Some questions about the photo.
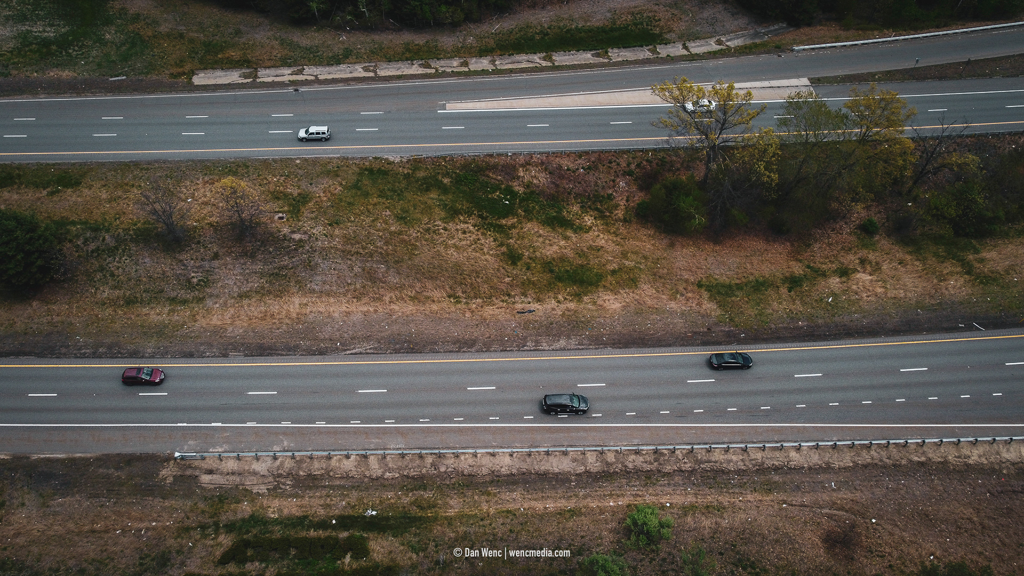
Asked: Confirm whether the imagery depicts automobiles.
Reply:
Yes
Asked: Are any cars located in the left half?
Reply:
Yes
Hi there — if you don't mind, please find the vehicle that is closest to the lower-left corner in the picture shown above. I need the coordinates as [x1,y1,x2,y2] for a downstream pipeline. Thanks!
[117,364,165,386]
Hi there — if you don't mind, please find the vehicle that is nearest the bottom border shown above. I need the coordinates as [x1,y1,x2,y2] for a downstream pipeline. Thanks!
[542,391,590,415]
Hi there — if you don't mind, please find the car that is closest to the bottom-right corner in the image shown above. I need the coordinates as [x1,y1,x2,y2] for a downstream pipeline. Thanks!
[709,348,754,369]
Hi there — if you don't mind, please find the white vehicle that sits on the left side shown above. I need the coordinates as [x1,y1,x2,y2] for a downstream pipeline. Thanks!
[297,125,330,142]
